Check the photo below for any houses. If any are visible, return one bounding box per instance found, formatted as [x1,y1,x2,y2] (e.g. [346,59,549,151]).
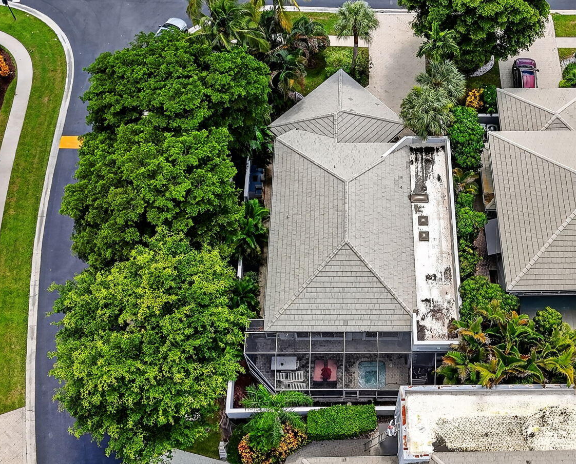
[299,385,576,464]
[478,86,576,310]
[260,68,460,363]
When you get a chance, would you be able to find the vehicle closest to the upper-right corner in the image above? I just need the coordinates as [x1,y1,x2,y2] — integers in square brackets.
[510,59,539,87]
